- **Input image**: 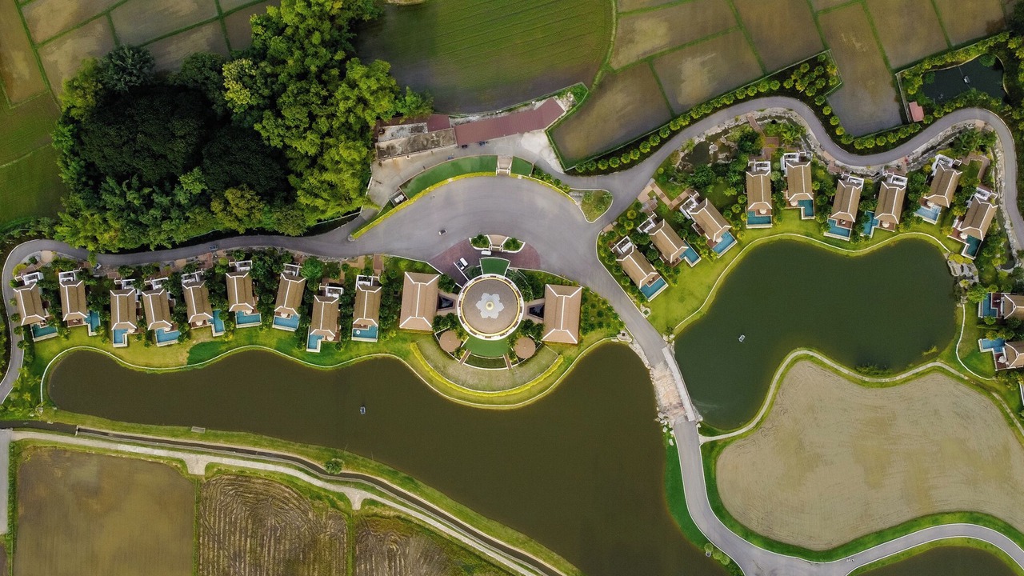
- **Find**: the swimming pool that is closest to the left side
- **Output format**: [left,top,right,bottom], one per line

[29,322,59,341]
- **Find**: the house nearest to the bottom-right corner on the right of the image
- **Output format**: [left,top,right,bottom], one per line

[993,340,1024,371]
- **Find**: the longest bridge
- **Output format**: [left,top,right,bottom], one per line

[653,347,699,426]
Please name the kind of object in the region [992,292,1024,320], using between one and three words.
house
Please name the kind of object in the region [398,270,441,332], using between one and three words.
building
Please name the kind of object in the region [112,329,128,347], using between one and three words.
swimming pool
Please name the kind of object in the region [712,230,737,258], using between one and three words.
swimming pool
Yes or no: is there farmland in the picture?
Yes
